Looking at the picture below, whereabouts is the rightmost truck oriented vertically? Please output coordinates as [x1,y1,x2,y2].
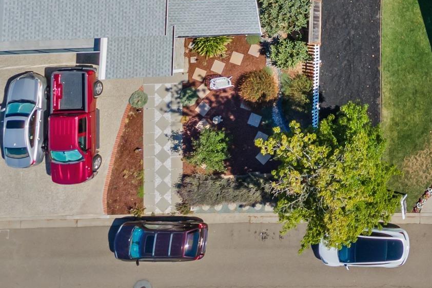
[45,65,106,181]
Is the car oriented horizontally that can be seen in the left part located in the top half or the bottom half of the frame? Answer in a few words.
bottom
